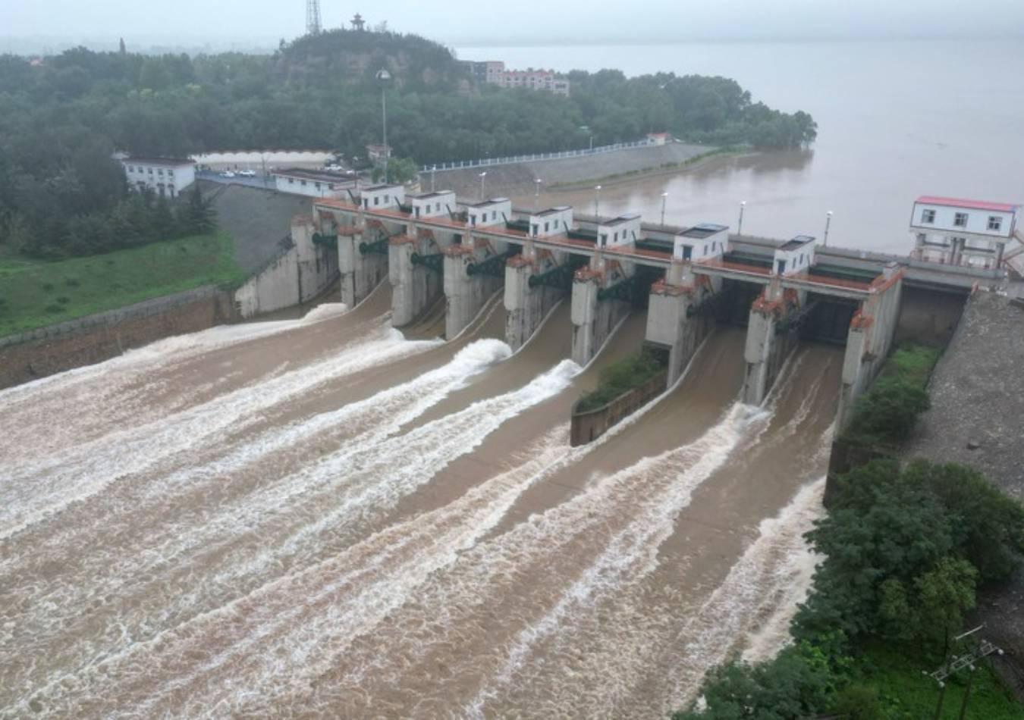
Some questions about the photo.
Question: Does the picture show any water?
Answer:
Yes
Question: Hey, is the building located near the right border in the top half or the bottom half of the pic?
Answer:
top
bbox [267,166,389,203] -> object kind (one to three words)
building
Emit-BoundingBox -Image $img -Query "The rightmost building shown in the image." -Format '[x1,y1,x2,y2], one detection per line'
[901,189,1024,276]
